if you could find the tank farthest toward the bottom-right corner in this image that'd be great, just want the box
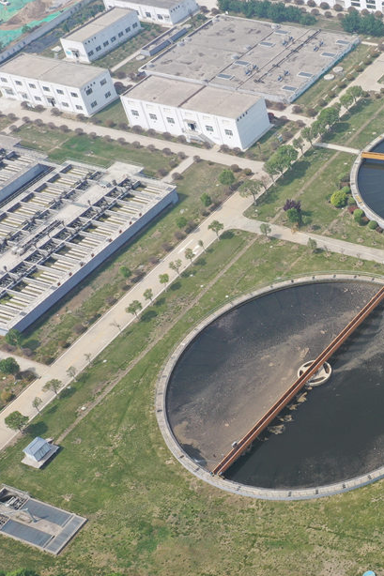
[155,271,384,500]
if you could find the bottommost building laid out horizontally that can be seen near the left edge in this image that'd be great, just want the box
[0,50,121,115]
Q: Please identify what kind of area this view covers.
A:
industrial area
